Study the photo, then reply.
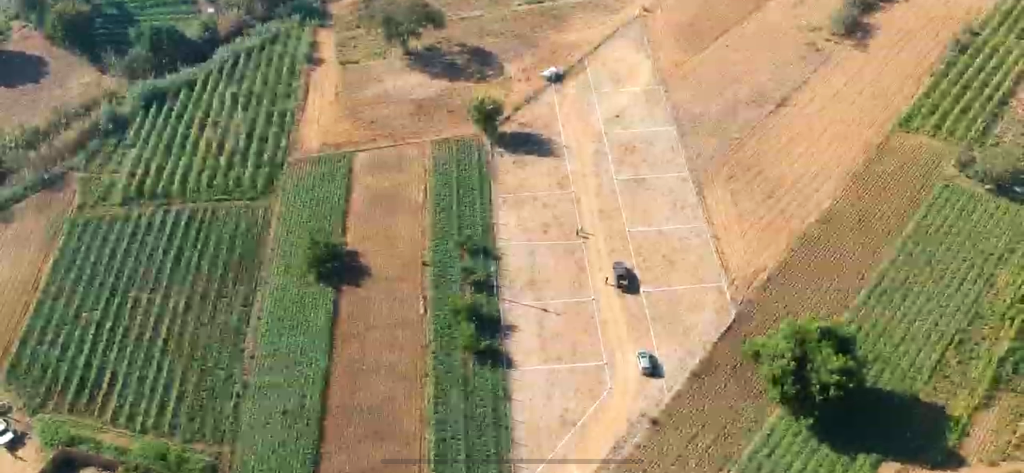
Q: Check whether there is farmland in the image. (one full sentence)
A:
Yes, the picture does contain farmland.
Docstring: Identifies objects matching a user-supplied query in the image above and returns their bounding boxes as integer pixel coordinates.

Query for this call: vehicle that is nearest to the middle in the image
[616,266,633,292]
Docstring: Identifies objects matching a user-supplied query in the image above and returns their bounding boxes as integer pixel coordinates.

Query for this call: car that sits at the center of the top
[543,70,564,82]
